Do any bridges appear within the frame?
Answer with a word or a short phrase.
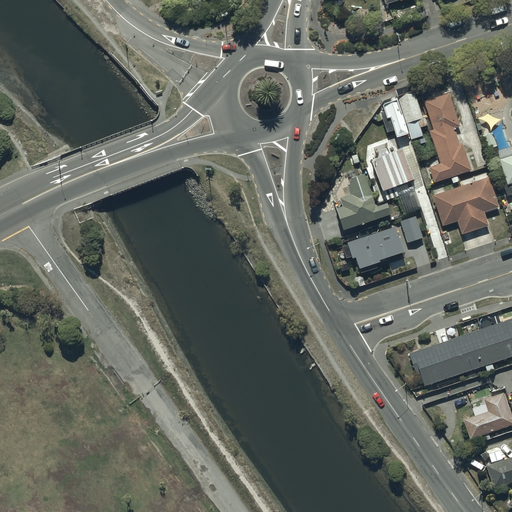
Yes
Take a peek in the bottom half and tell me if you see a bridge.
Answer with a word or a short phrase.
No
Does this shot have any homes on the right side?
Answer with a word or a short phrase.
Yes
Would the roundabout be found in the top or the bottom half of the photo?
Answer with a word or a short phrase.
top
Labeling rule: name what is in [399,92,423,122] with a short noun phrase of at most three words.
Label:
building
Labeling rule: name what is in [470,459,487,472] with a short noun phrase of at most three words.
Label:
vehicle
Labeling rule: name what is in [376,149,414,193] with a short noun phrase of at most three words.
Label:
house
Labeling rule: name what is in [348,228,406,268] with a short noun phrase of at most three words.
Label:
house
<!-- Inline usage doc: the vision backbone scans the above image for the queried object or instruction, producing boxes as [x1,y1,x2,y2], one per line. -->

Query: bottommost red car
[372,392,385,408]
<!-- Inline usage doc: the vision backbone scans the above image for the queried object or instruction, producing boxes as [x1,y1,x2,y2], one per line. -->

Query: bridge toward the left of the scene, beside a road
[22,110,214,208]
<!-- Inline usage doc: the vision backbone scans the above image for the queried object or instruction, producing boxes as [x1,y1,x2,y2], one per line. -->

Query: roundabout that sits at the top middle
[172,0,314,160]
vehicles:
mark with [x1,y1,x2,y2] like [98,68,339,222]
[294,2,301,18]
[338,84,354,93]
[222,44,236,52]
[500,249,512,258]
[492,18,509,27]
[296,89,304,105]
[293,126,300,140]
[294,28,301,44]
[443,302,459,311]
[378,316,394,324]
[470,459,487,472]
[309,257,318,273]
[372,392,385,408]
[382,76,398,85]
[359,323,374,332]
[264,61,284,70]
[501,444,512,458]
[174,38,190,47]
[448,20,463,28]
